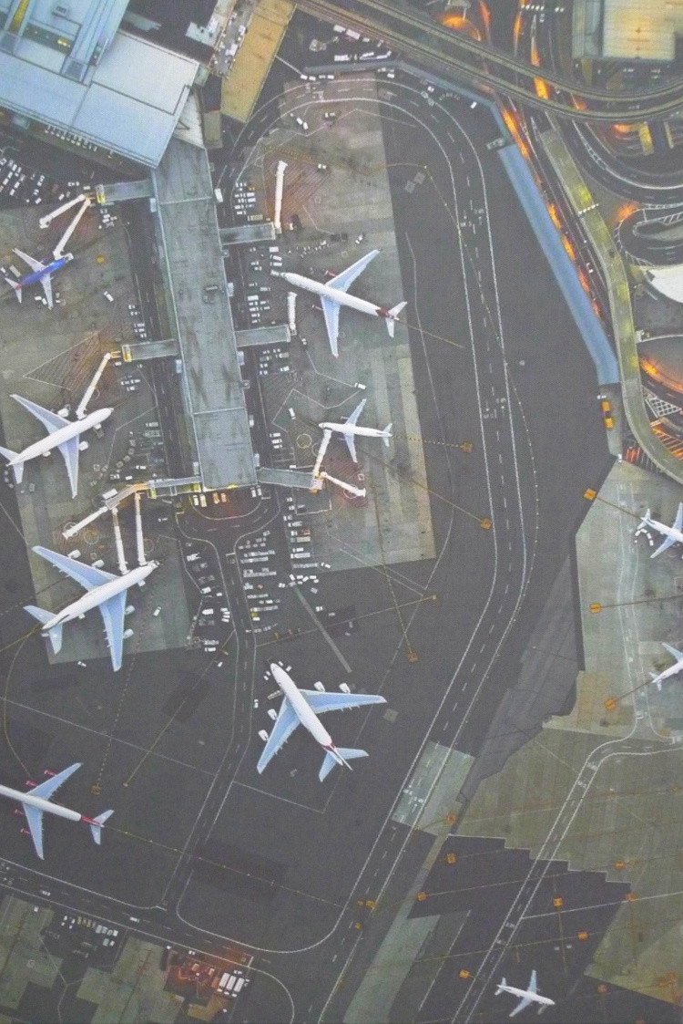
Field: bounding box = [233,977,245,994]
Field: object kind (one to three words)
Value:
vehicle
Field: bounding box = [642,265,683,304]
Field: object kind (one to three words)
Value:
building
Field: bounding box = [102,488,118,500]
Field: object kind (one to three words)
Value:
vehicle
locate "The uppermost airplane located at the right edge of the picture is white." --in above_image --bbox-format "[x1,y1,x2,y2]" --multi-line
[635,502,683,559]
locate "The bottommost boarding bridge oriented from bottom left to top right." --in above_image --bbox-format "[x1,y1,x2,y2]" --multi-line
[58,503,111,541]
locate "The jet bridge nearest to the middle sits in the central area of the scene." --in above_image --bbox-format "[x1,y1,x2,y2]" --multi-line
[320,470,370,497]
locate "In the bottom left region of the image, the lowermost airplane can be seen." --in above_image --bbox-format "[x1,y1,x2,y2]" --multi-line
[0,764,115,863]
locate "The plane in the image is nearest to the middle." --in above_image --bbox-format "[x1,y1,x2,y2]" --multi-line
[319,399,397,462]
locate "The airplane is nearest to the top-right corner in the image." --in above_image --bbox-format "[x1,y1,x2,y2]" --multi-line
[280,248,409,360]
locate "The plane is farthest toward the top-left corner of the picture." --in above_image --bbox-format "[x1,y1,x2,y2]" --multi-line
[7,249,68,312]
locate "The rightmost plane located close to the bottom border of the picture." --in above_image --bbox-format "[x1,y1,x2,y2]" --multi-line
[491,969,555,1017]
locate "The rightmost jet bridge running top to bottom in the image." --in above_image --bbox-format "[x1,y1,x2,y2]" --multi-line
[311,425,332,474]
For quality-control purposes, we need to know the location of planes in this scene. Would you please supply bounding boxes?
[647,643,683,694]
[635,502,683,559]
[280,248,409,360]
[262,663,385,786]
[7,249,68,312]
[0,394,113,500]
[491,969,555,1017]
[23,545,158,677]
[319,399,397,462]
[0,764,115,863]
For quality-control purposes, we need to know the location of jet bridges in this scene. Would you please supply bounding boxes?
[282,288,297,333]
[73,350,112,421]
[132,492,148,567]
[109,506,130,576]
[52,197,93,261]
[320,470,370,497]
[35,191,89,230]
[58,503,111,541]
[271,158,288,232]
[311,425,332,474]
